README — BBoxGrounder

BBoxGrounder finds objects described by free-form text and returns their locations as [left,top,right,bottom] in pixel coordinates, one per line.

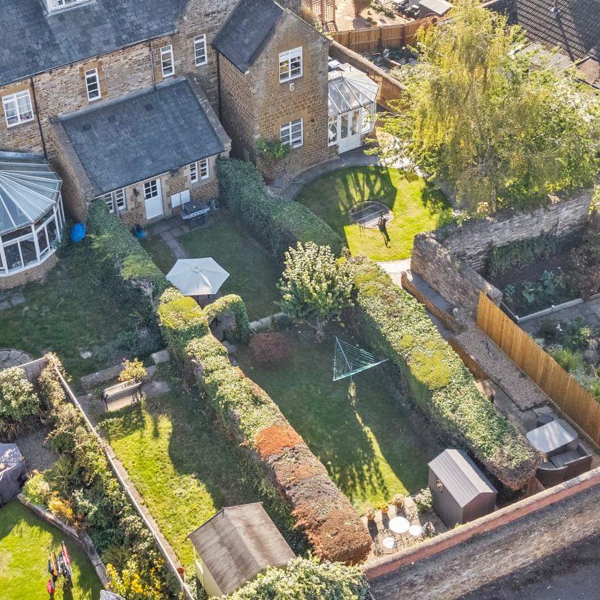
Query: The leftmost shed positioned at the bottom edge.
[182,504,297,600]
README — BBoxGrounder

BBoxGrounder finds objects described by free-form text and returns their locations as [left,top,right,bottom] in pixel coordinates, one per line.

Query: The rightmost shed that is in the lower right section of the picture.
[422,447,498,530]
